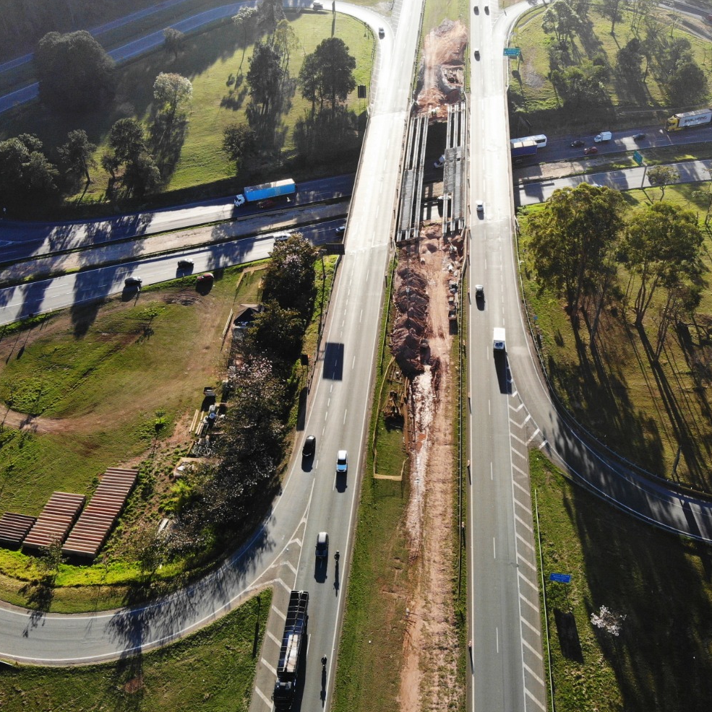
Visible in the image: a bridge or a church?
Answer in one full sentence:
This aerial view contains a bridge.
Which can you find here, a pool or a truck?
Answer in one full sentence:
I can see a truck in this picture.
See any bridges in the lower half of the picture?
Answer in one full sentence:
No, no bridge appears in the lower half of the picture.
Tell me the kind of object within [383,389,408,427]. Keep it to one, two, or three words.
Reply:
work vehicle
